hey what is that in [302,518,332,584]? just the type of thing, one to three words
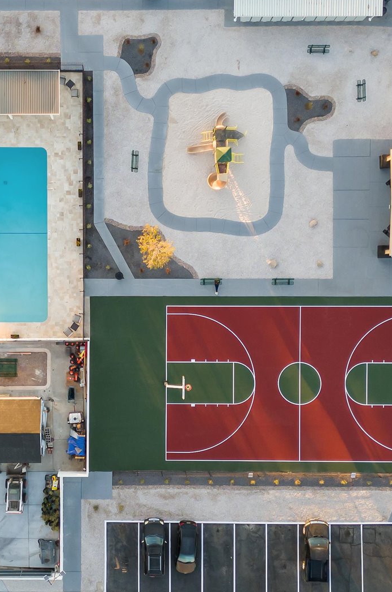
truck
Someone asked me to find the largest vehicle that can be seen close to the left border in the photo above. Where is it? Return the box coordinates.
[3,465,28,515]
